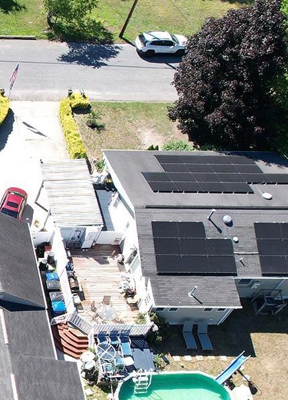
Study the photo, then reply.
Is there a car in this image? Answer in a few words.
Yes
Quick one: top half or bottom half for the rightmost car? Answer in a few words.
top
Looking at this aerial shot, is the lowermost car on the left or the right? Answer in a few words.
left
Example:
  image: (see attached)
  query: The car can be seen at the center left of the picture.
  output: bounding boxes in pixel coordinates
[0,185,30,219]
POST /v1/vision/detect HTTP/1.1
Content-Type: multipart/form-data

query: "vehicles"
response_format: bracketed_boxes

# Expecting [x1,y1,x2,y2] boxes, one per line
[129,31,192,63]
[0,185,30,219]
